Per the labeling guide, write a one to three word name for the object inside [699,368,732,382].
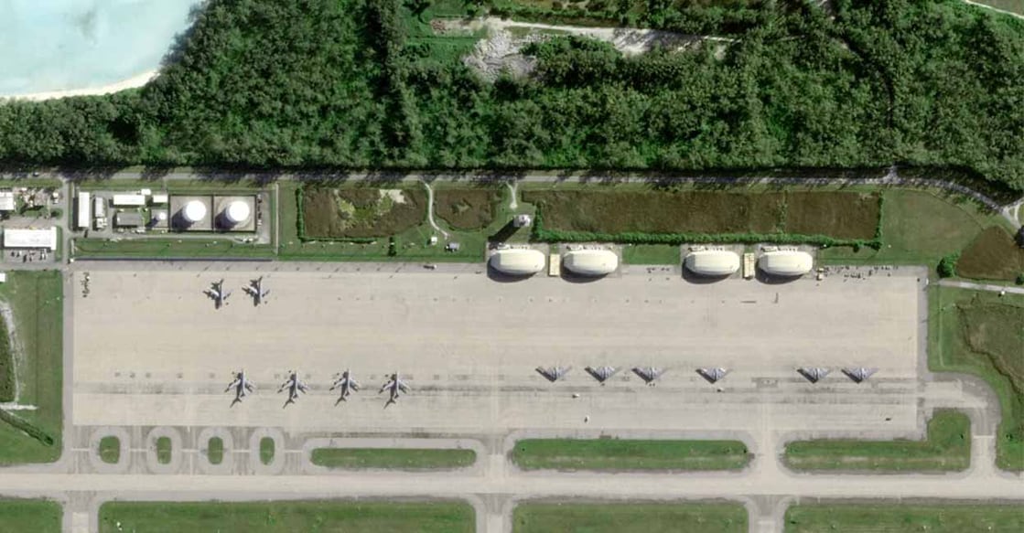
airplane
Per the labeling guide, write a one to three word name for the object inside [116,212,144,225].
building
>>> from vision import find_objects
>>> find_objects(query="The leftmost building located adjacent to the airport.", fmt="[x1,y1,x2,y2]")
[2,227,58,251]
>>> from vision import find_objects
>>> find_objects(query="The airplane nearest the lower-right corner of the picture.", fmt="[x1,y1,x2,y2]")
[844,367,876,381]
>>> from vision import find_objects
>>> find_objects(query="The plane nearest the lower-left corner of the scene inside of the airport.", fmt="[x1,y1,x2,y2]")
[230,370,257,398]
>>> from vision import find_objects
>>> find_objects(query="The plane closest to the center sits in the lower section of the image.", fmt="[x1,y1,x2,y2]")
[538,366,572,380]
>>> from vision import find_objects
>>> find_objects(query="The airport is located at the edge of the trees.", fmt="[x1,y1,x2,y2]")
[0,243,1024,533]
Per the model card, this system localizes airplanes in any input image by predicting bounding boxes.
[335,369,362,398]
[699,368,732,382]
[634,367,667,381]
[283,371,310,399]
[587,367,620,381]
[230,370,257,398]
[799,367,832,382]
[247,275,274,304]
[209,278,235,307]
[844,367,876,381]
[384,372,410,400]
[538,366,572,380]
